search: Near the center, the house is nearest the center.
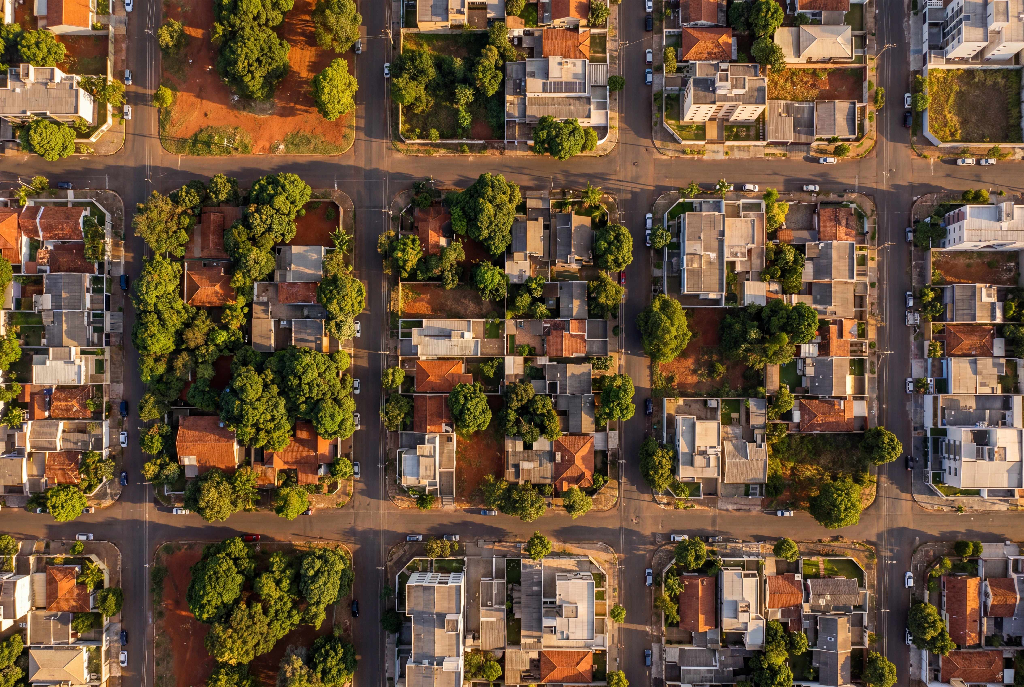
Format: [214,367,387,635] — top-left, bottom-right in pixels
[505,357,523,382]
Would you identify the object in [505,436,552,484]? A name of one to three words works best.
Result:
house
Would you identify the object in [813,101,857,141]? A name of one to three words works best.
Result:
building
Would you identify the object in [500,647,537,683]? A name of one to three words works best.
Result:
shed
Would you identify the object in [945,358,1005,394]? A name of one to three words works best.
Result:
house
